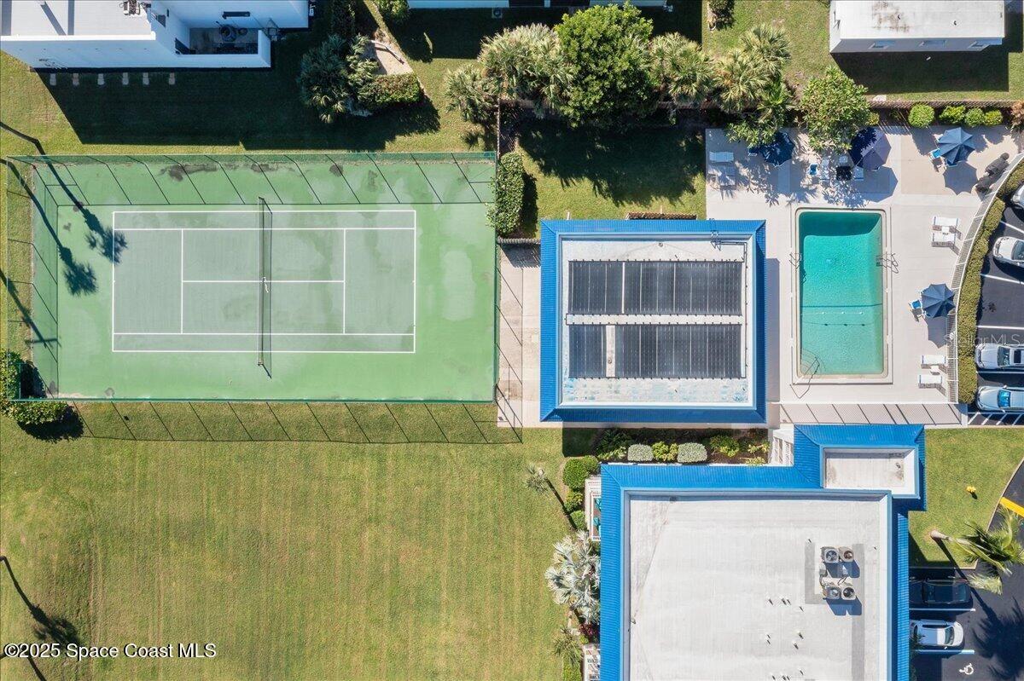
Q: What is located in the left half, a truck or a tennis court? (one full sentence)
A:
You can see a tennis court in the left half.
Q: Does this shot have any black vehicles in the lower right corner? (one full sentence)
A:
Yes, a black vehicle appears in the lower right corner.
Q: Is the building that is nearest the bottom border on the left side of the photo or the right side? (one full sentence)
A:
The building that is nearest the bottom border is on the right side of the image.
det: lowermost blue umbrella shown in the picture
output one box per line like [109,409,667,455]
[917,284,951,317]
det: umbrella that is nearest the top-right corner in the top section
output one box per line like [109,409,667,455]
[933,129,969,165]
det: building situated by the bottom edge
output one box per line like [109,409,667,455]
[585,423,927,681]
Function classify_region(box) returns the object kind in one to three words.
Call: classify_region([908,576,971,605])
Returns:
car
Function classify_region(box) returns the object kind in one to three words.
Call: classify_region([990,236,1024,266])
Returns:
car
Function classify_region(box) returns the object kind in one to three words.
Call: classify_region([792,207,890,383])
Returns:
swimming pool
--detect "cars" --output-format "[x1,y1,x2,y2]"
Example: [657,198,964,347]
[908,620,962,650]
[990,236,1024,266]
[973,343,1024,373]
[908,576,971,605]
[974,385,1024,414]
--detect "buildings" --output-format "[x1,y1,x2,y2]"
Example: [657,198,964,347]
[0,0,308,67]
[585,423,927,681]
[540,219,767,425]
[413,0,667,8]
[830,0,1024,52]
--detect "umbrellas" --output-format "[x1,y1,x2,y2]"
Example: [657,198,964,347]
[845,127,892,173]
[917,284,951,317]
[753,129,795,171]
[933,129,969,165]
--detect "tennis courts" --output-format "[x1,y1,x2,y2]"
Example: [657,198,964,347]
[32,160,496,401]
